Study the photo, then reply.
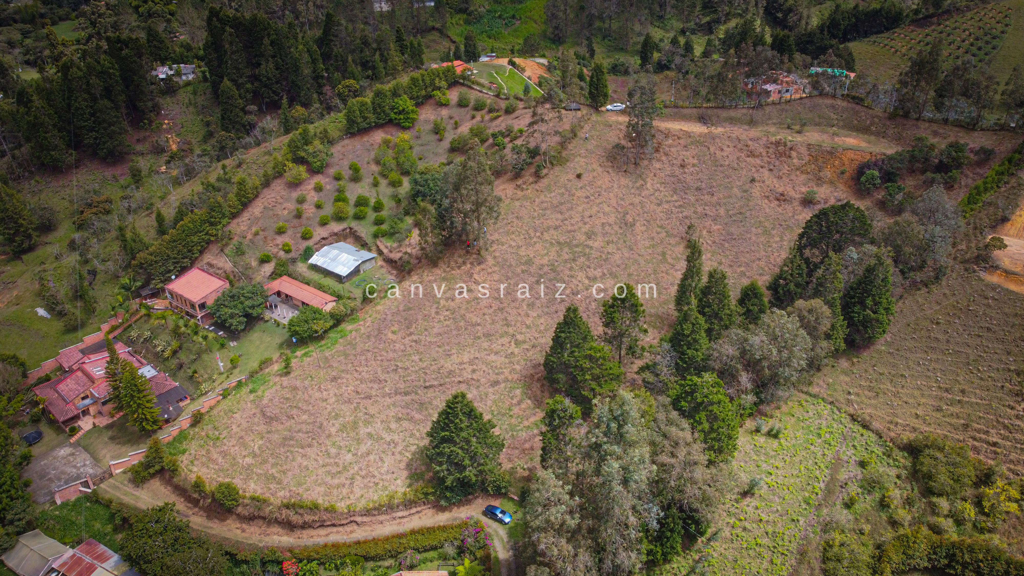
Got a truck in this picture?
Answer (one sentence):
No, no truck can be seen from above.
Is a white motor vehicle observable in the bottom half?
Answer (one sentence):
No, in the bottom half there is no white motor vehicle.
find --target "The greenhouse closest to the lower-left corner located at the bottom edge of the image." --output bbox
[6,529,71,576]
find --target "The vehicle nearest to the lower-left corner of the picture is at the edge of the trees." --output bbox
[481,500,517,525]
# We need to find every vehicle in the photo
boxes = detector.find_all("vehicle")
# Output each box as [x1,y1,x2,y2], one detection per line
[481,500,517,525]
[605,103,626,111]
